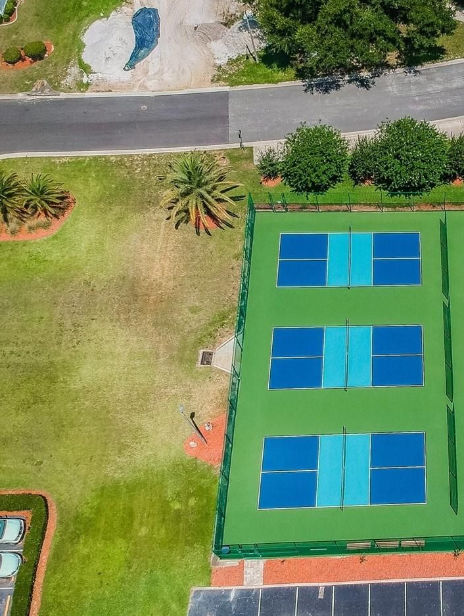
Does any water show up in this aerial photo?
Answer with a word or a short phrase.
No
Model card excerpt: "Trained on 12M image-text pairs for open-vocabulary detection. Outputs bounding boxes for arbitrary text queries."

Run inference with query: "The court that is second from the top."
[268,317,424,392]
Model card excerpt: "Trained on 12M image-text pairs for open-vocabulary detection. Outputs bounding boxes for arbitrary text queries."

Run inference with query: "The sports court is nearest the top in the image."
[276,225,421,290]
